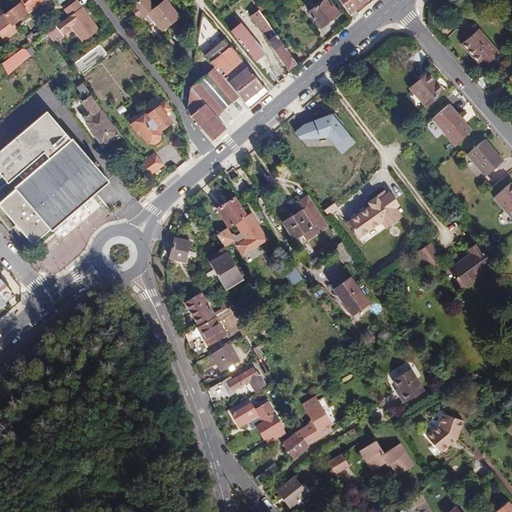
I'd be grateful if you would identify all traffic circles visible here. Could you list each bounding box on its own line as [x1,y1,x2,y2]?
[91,226,148,282]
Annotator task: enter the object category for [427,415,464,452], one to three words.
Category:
house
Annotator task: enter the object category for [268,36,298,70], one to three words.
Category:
shed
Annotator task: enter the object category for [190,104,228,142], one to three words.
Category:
building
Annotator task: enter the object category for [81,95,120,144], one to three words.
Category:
house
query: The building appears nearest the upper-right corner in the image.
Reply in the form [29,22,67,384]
[460,28,498,67]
